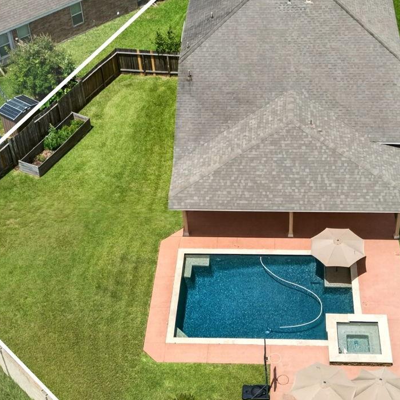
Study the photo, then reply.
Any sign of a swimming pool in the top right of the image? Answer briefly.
No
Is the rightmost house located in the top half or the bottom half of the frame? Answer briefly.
top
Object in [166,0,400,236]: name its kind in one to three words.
house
